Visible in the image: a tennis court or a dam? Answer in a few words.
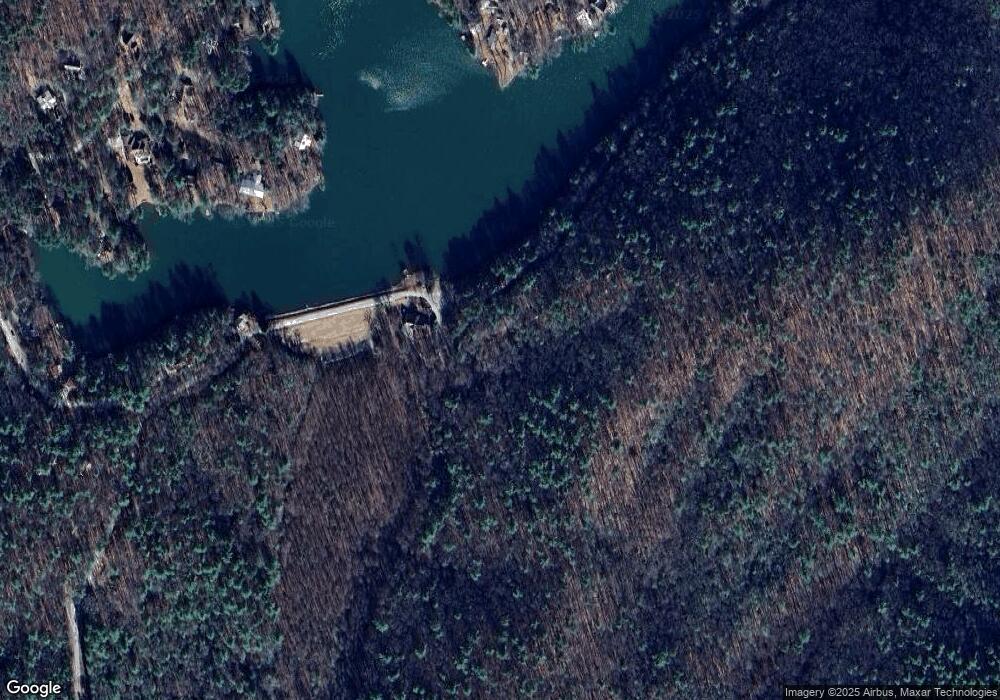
dam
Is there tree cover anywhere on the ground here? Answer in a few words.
Yes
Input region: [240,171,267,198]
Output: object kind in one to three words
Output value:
house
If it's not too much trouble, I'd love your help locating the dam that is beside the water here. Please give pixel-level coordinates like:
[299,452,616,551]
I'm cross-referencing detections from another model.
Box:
[259,282,406,352]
